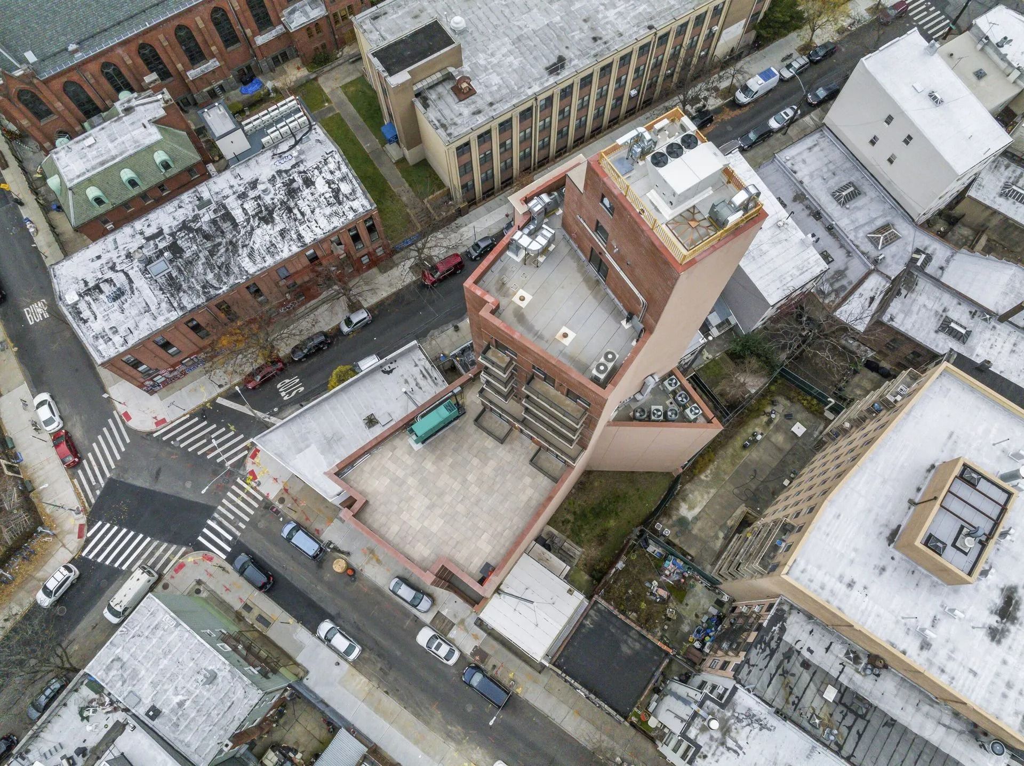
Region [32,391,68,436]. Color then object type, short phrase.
white car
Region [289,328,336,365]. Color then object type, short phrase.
black car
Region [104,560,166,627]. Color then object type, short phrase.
white van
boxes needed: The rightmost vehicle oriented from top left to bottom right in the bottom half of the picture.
[456,659,516,717]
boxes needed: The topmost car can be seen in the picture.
[873,0,915,29]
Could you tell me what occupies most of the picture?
buildings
